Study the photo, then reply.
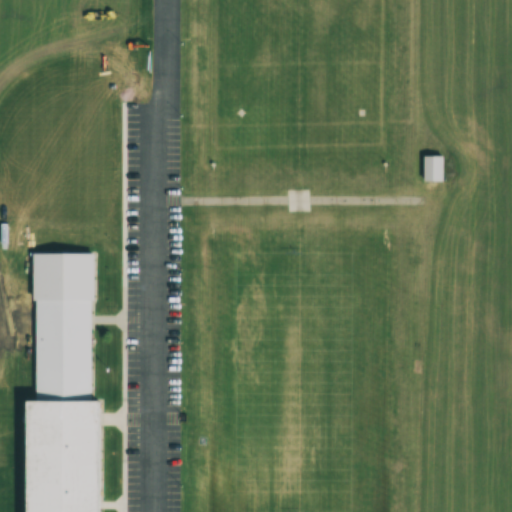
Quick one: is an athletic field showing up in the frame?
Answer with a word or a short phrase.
Yes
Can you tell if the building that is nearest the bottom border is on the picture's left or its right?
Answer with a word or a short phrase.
left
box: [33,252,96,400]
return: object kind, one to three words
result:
building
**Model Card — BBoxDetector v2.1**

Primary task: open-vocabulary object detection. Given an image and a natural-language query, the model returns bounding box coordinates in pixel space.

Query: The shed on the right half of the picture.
[424,156,444,182]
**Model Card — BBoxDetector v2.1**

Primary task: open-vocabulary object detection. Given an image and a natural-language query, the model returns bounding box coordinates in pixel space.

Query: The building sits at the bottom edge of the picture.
[26,400,104,512]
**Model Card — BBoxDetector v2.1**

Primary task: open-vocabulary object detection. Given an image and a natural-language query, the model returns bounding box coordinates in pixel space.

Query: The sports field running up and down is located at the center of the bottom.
[236,252,353,512]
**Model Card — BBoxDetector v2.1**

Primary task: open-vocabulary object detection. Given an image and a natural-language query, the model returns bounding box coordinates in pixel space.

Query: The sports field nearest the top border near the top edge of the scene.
[216,0,383,149]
